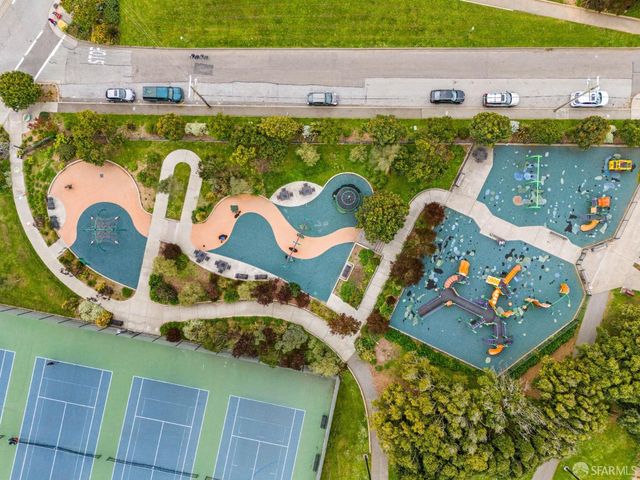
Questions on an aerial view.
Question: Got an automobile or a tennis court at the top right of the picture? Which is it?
automobile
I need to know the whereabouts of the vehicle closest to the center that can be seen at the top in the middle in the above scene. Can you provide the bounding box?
[306,89,339,106]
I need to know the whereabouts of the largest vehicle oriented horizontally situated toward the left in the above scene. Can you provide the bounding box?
[138,84,184,102]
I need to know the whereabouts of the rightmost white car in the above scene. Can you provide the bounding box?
[572,89,611,107]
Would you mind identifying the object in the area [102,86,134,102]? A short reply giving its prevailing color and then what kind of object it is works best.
white car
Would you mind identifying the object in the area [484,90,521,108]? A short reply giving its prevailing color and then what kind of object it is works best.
white car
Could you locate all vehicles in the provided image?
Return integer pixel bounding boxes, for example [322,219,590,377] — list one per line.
[102,86,134,102]
[306,89,339,106]
[431,88,466,104]
[484,90,521,108]
[138,84,184,102]
[572,89,611,107]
